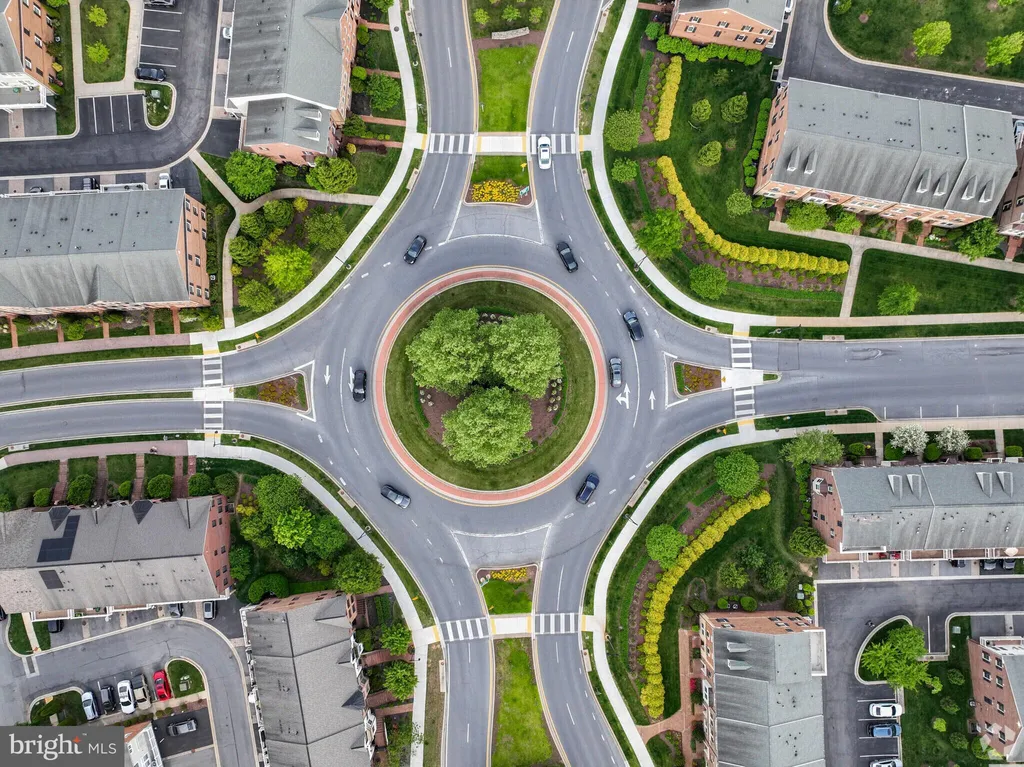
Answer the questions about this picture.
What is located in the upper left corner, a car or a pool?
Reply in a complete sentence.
It is a car that can be seen in the upper left corner.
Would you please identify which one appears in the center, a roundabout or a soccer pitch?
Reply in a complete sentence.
The one visible in the center is a roundabout.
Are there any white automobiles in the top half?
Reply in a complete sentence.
Yes, a white automobile shows up in the top half.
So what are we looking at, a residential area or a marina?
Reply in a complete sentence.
The picture captures a residential area.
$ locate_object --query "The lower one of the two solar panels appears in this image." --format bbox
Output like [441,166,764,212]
[39,570,63,589]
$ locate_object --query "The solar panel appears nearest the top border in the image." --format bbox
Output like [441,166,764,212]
[37,516,80,562]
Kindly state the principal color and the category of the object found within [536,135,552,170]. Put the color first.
white car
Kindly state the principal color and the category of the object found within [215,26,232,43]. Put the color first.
white car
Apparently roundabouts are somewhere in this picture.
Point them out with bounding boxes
[337,238,643,533]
